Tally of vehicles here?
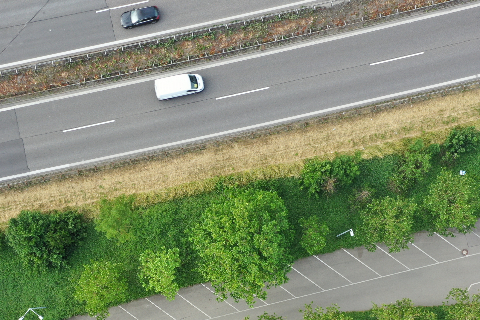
2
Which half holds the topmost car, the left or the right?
left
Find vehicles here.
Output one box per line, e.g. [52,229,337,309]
[120,4,161,29]
[154,72,204,101]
